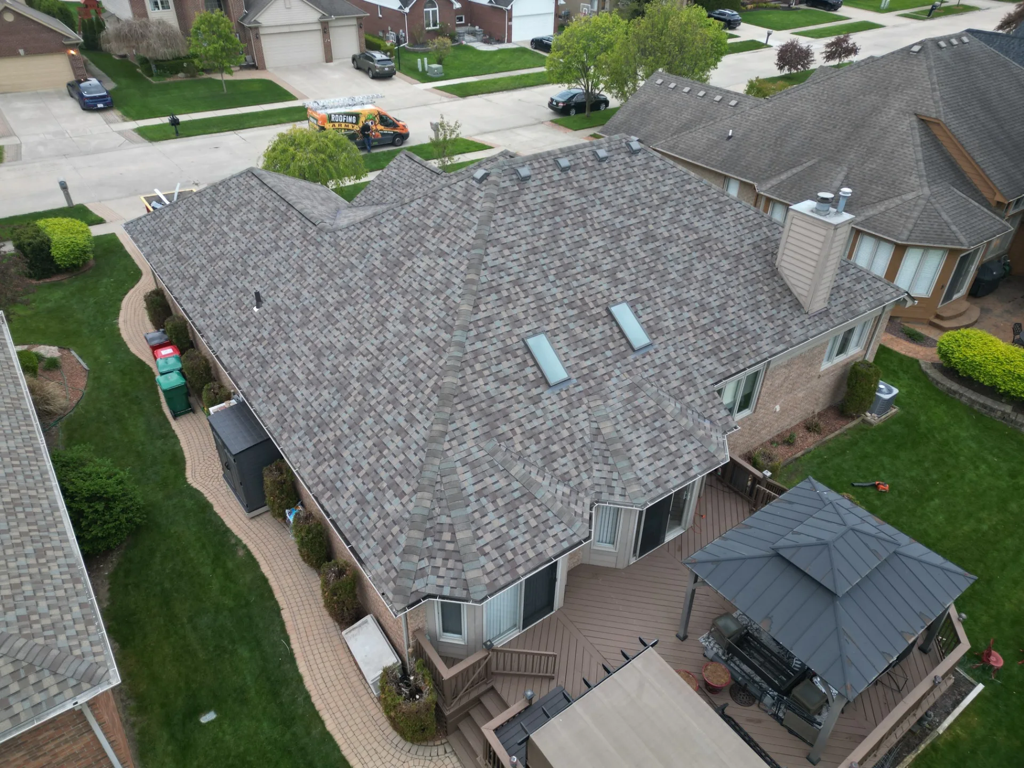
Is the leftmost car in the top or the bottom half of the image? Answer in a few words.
top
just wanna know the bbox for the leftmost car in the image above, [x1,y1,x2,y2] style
[67,79,111,108]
